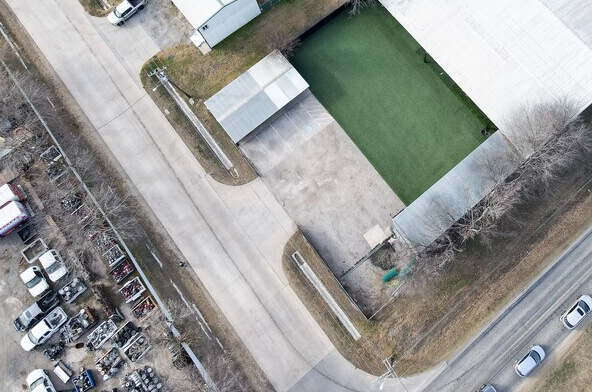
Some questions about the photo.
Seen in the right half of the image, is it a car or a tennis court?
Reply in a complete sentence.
The feature located in the right half of the image is a car.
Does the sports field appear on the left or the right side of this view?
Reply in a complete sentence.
The sports field sits on the right side.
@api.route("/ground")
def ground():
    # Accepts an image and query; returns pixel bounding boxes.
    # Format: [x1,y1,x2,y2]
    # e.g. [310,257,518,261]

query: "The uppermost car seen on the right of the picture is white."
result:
[557,291,592,333]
